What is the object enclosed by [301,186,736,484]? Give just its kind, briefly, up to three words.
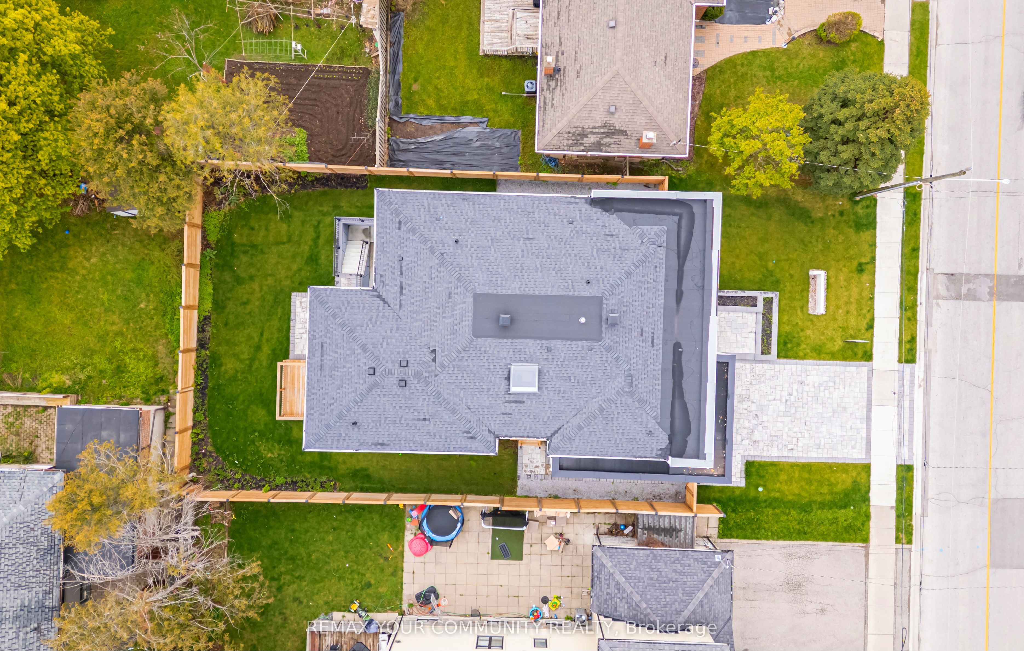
house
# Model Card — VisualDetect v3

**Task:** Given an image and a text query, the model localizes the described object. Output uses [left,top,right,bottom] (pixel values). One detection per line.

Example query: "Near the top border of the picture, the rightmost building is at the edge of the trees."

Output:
[534,0,729,161]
